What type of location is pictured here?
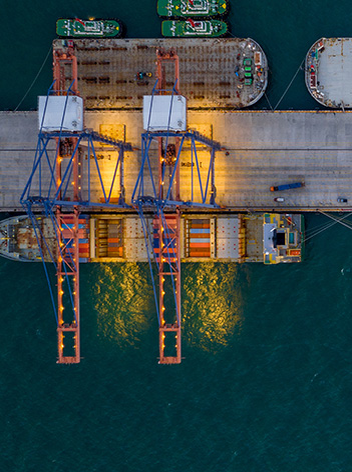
port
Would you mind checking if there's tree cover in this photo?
No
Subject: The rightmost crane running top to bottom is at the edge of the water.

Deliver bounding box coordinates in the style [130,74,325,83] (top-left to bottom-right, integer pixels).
[130,53,222,365]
